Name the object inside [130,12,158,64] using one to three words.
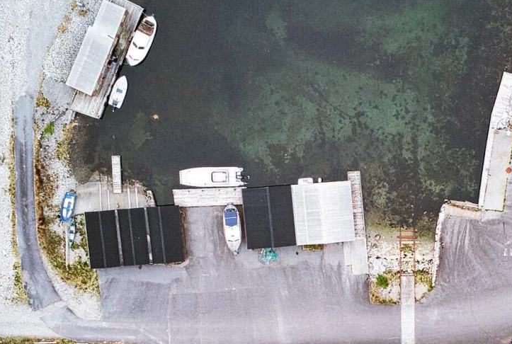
boat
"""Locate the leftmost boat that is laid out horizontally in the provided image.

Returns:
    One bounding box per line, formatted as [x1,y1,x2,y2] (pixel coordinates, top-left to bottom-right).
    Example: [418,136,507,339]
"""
[178,166,243,186]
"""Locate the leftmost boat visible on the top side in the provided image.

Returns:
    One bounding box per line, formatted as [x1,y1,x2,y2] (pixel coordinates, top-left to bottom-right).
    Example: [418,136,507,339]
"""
[109,75,127,112]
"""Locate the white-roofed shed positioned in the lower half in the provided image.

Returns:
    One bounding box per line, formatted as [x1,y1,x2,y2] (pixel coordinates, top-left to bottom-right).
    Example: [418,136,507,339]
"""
[291,180,354,245]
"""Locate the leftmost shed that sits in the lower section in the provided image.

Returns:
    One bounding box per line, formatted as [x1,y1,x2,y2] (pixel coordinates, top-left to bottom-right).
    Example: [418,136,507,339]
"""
[84,205,189,267]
